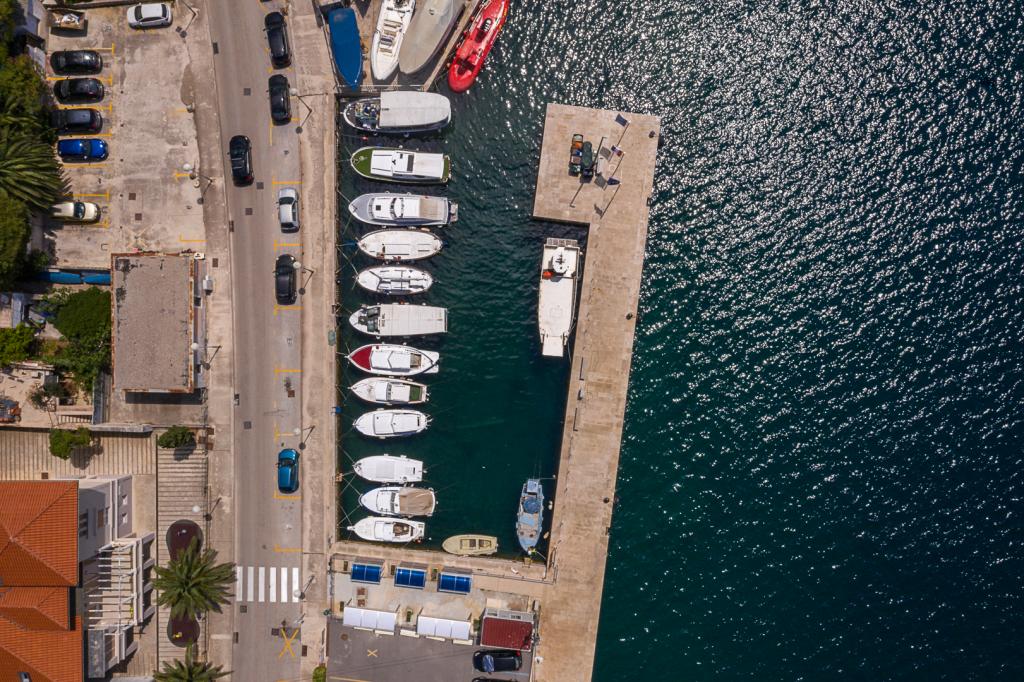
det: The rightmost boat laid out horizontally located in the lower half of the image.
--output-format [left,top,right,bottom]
[442,535,501,555]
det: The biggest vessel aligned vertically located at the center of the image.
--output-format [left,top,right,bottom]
[539,237,581,358]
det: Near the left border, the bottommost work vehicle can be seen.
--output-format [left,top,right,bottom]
[0,398,25,422]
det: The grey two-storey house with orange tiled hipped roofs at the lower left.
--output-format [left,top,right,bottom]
[0,472,155,682]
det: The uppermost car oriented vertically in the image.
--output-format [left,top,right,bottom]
[263,12,292,70]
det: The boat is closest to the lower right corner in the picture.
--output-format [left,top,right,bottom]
[516,461,548,557]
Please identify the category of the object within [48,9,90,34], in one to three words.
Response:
trailer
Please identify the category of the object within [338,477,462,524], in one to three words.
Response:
boat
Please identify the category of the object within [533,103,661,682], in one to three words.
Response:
pier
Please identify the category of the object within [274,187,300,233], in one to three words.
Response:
car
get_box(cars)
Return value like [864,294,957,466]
[272,255,297,305]
[274,187,300,233]
[54,76,106,102]
[225,135,254,187]
[265,74,292,125]
[263,12,292,70]
[50,47,104,75]
[472,648,522,677]
[49,199,101,223]
[126,0,174,28]
[57,136,110,161]
[275,449,300,493]
[50,107,104,134]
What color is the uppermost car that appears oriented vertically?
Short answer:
black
